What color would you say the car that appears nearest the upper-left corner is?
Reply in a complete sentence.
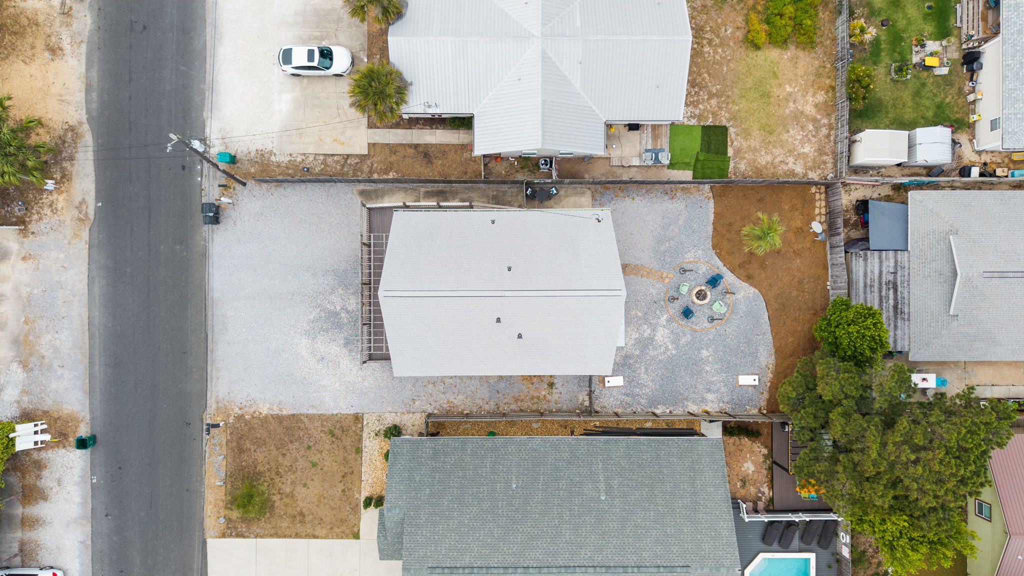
The car that appears nearest the upper-left corner is white.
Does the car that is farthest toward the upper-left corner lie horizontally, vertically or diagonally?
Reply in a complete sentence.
The car that is farthest toward the upper-left corner runs horizontally in the image.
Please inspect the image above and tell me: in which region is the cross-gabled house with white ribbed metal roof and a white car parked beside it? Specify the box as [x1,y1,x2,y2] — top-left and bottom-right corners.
[387,0,692,158]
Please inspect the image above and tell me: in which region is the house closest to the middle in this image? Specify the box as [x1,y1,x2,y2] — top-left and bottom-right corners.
[378,206,626,376]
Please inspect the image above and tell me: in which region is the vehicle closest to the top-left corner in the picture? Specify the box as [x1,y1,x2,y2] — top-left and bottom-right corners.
[276,39,354,78]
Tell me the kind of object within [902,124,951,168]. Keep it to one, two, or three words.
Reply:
shed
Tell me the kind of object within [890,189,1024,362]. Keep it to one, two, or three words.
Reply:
house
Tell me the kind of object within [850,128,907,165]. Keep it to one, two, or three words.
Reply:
shed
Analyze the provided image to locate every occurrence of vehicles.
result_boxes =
[0,566,62,576]
[276,39,354,78]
